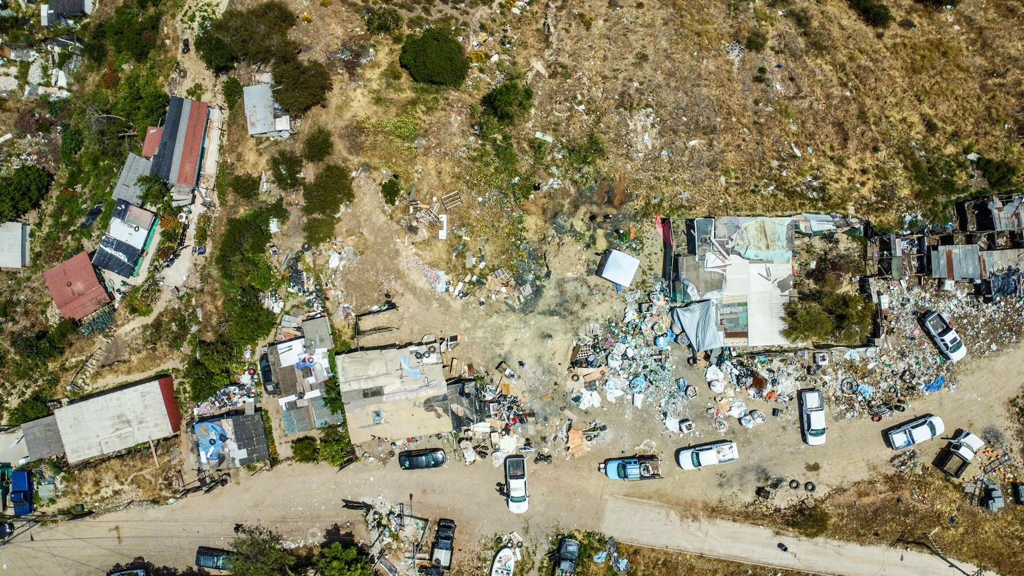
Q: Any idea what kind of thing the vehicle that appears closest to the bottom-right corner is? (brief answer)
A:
truck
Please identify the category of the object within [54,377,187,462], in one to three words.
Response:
house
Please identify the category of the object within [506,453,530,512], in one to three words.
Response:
truck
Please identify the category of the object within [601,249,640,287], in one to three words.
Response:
tent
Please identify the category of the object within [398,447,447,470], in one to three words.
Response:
car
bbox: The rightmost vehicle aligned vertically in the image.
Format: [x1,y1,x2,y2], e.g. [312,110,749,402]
[798,389,827,445]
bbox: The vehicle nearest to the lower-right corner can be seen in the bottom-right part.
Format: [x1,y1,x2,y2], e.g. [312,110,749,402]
[937,429,987,487]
